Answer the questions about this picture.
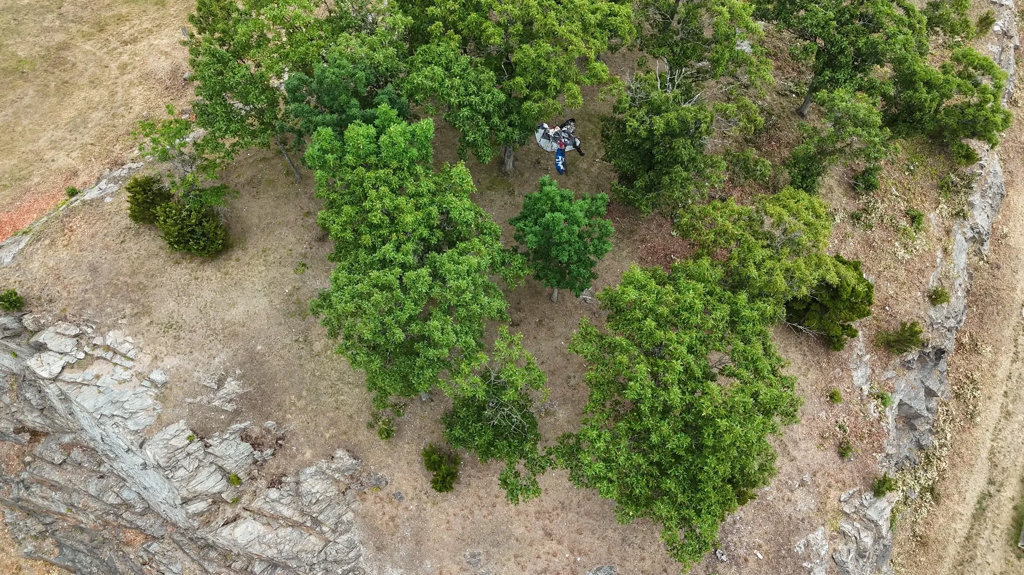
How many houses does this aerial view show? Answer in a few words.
0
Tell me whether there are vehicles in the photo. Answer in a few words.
No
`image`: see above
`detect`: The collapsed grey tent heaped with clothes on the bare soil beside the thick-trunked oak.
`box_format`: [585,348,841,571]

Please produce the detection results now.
[535,124,580,151]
